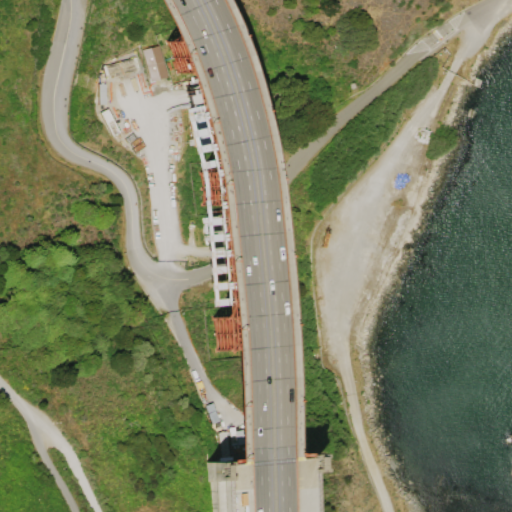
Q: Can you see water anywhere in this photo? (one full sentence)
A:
Yes, there's water in this view.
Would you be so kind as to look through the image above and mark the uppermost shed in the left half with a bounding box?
[146,48,170,84]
